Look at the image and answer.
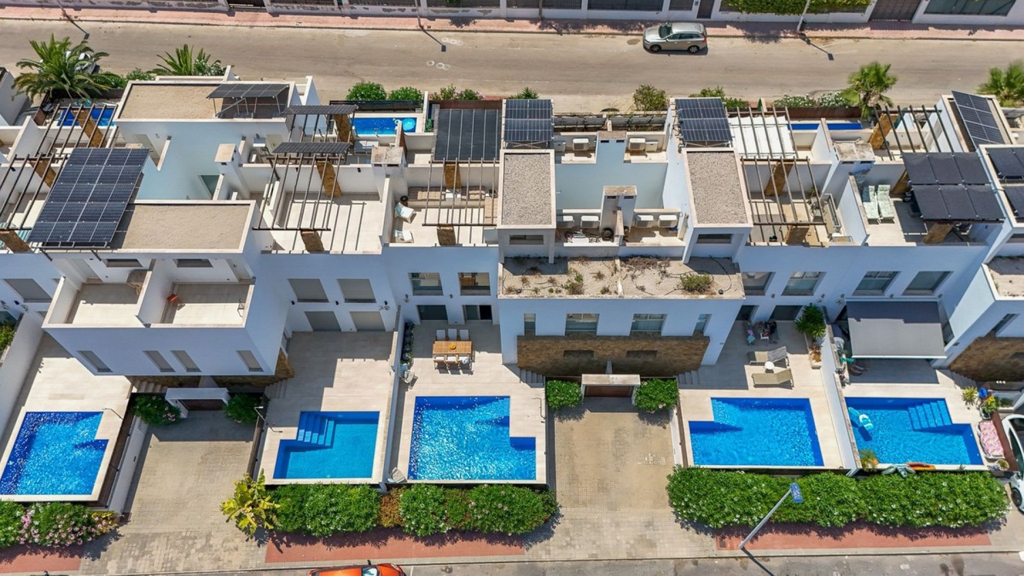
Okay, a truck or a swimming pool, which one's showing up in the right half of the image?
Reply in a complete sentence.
Looking in the right half of the image, you will find a swimming pool.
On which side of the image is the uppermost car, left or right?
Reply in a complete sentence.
The uppermost car appears in the right half of the scene.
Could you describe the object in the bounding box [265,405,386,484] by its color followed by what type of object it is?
blue swimming pool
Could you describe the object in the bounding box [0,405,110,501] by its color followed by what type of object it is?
blue swimming pool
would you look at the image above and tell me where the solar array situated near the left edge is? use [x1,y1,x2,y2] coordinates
[27,155,150,249]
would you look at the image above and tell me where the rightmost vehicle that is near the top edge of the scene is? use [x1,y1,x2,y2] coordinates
[642,22,709,56]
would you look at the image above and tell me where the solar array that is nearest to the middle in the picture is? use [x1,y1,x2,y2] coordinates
[501,97,554,149]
